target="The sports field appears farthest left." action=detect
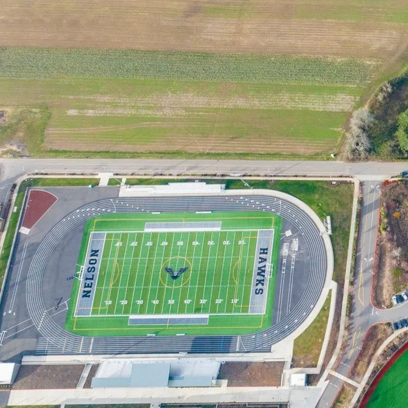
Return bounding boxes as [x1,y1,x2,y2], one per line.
[65,211,283,336]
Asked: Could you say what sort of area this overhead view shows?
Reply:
sports ground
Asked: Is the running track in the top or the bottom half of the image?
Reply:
bottom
